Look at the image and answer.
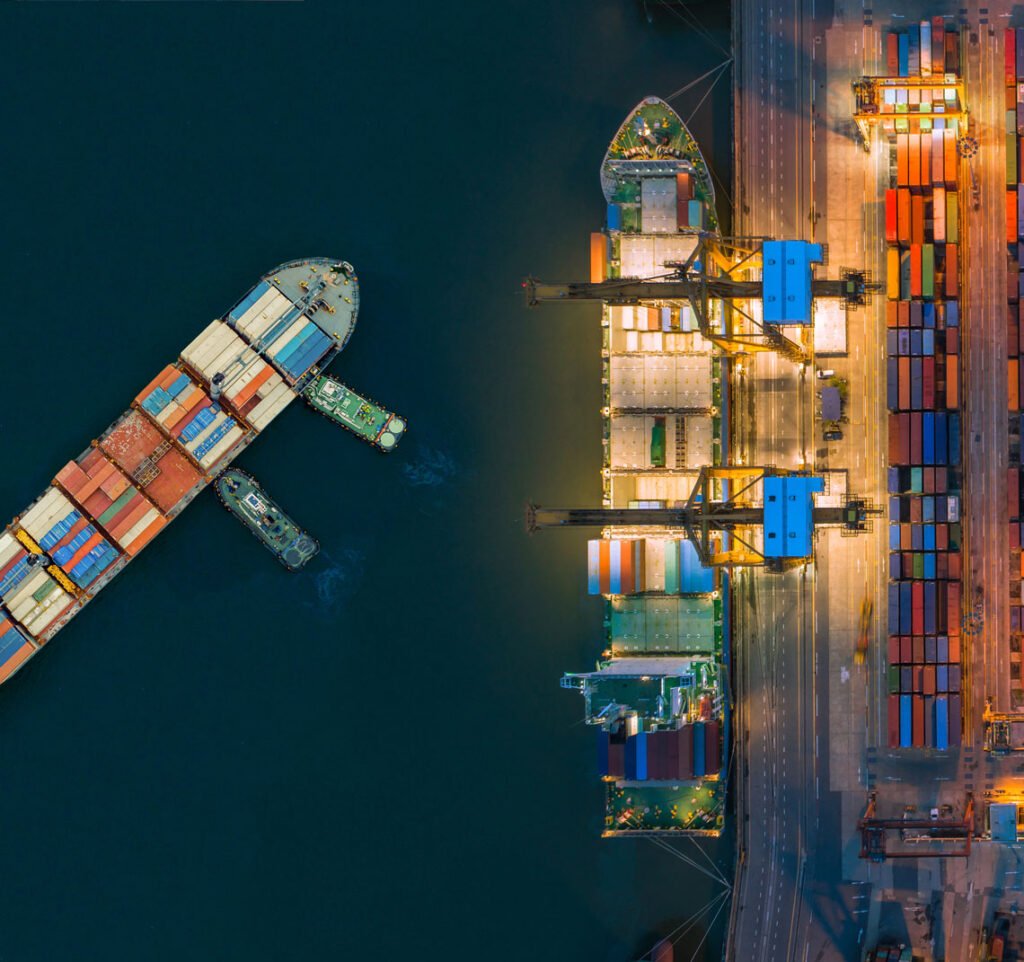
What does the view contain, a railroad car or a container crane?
container crane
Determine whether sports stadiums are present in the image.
No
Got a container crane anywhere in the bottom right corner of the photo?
Yes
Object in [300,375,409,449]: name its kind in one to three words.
boat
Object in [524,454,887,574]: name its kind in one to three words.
container crane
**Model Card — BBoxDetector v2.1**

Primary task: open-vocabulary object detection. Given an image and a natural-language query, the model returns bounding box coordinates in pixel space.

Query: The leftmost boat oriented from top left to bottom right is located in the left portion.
[213,469,321,574]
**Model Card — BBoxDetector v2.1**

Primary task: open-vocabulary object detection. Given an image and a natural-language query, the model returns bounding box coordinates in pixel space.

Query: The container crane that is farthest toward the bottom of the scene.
[859,790,974,866]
